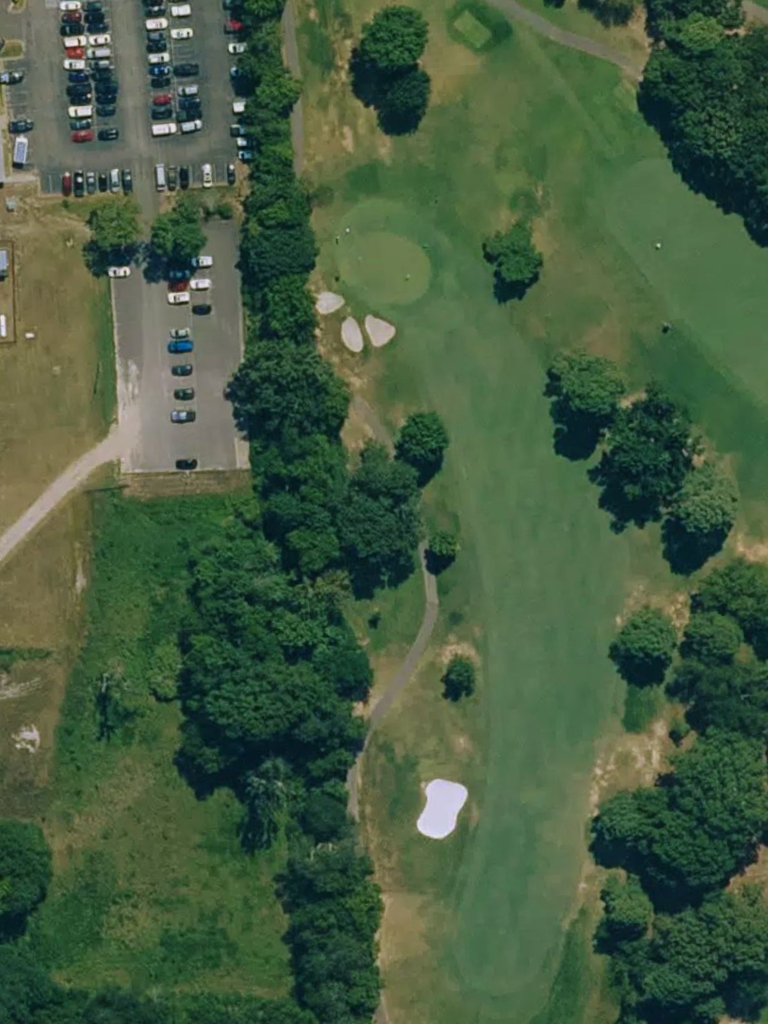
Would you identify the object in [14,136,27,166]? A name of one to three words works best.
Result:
vehicle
